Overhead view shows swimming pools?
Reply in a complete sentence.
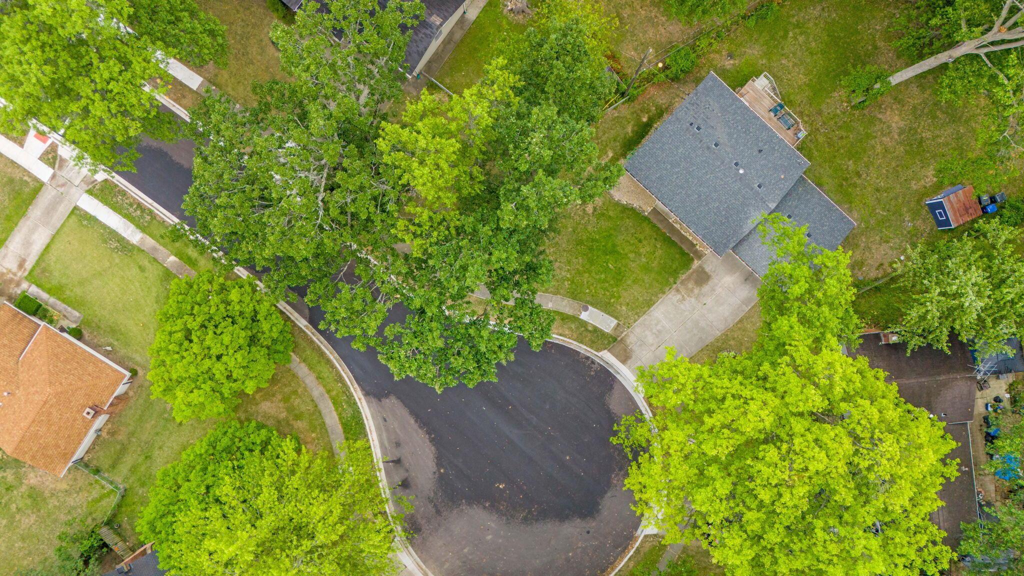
No, there is no swimming pool in the image.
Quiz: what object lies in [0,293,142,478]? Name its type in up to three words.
house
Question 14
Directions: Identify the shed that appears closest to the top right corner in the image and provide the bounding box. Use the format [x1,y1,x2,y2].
[926,188,984,230]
